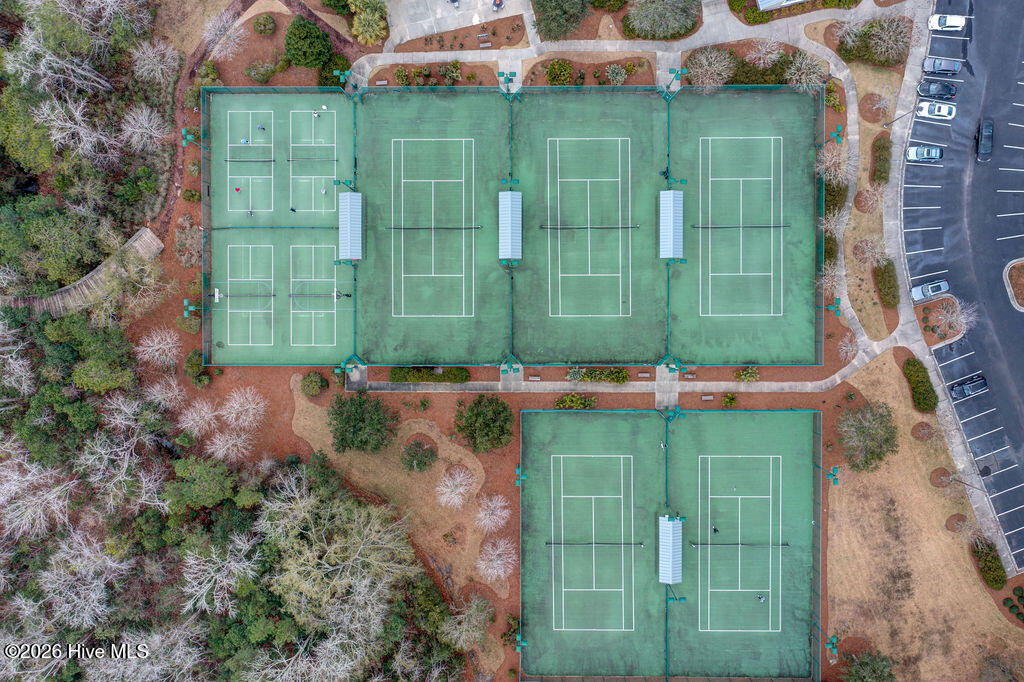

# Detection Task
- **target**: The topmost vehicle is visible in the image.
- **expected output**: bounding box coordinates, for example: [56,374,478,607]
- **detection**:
[927,12,965,32]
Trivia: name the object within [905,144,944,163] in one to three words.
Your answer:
car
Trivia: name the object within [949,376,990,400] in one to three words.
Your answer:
car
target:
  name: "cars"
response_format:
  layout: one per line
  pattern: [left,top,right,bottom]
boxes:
[975,119,997,162]
[905,144,944,163]
[927,12,965,32]
[916,81,956,100]
[916,101,956,120]
[921,56,962,76]
[949,376,990,400]
[911,280,950,300]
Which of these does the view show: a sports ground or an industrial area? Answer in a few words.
sports ground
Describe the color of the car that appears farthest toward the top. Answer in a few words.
white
